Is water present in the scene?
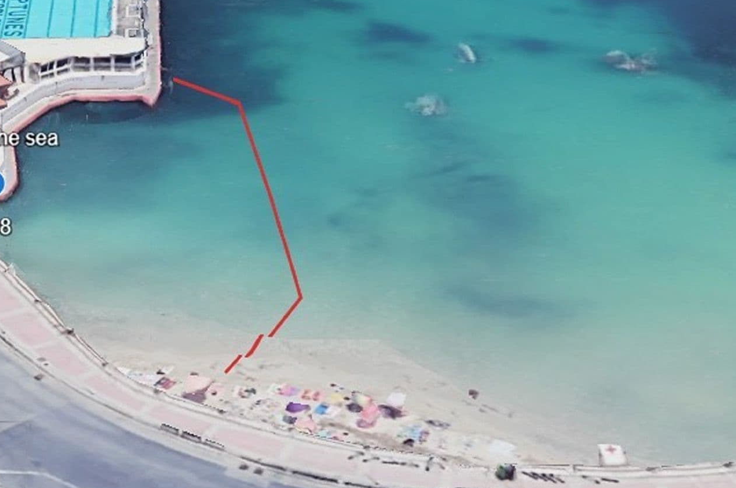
Yes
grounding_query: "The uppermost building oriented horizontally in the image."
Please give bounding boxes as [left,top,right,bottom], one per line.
[0,36,148,86]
